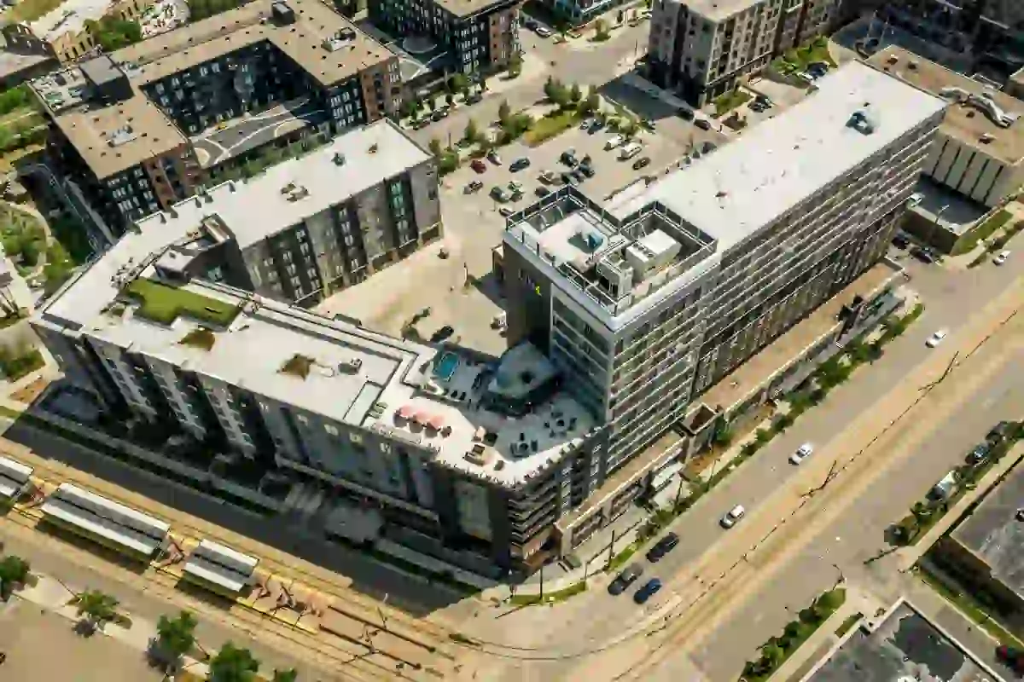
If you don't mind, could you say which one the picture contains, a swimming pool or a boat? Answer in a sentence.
Of the two, only a swimming pool appears.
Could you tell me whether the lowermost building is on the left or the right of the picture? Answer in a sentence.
It is on the right.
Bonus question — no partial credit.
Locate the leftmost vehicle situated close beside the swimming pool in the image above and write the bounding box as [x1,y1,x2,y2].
[430,321,456,346]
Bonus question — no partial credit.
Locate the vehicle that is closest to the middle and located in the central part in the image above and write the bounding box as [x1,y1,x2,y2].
[486,305,507,334]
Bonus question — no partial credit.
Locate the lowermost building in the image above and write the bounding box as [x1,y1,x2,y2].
[823,599,1006,682]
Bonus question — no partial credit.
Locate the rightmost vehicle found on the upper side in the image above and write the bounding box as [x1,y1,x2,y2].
[990,246,1013,266]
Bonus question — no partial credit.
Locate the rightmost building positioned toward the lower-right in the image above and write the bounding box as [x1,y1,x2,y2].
[933,461,1024,616]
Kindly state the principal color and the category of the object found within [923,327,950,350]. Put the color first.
white car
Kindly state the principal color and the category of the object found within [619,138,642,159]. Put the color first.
white vehicle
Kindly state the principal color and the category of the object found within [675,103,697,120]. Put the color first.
black car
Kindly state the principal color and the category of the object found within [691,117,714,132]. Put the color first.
gray car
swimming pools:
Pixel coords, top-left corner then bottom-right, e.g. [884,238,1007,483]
[432,349,461,383]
